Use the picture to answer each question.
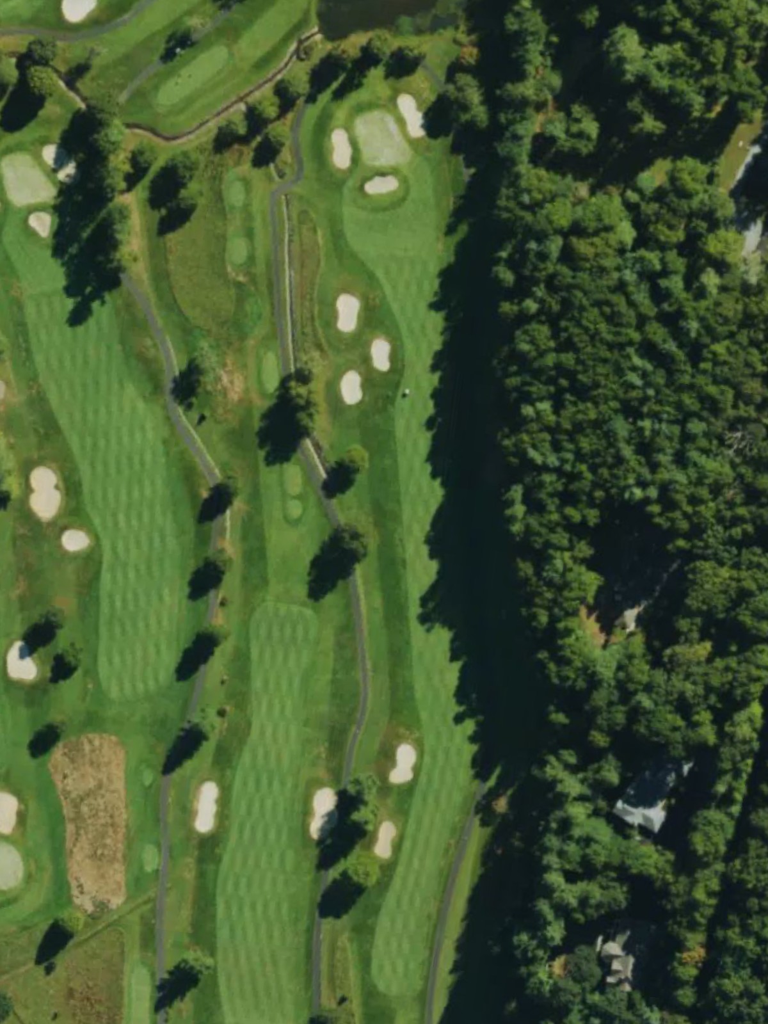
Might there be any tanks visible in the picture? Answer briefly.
No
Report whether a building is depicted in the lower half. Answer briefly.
Yes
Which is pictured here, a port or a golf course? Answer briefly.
golf course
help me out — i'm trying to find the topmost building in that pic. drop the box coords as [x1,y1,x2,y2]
[613,595,645,624]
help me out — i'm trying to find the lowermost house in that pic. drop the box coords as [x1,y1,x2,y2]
[601,937,638,993]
